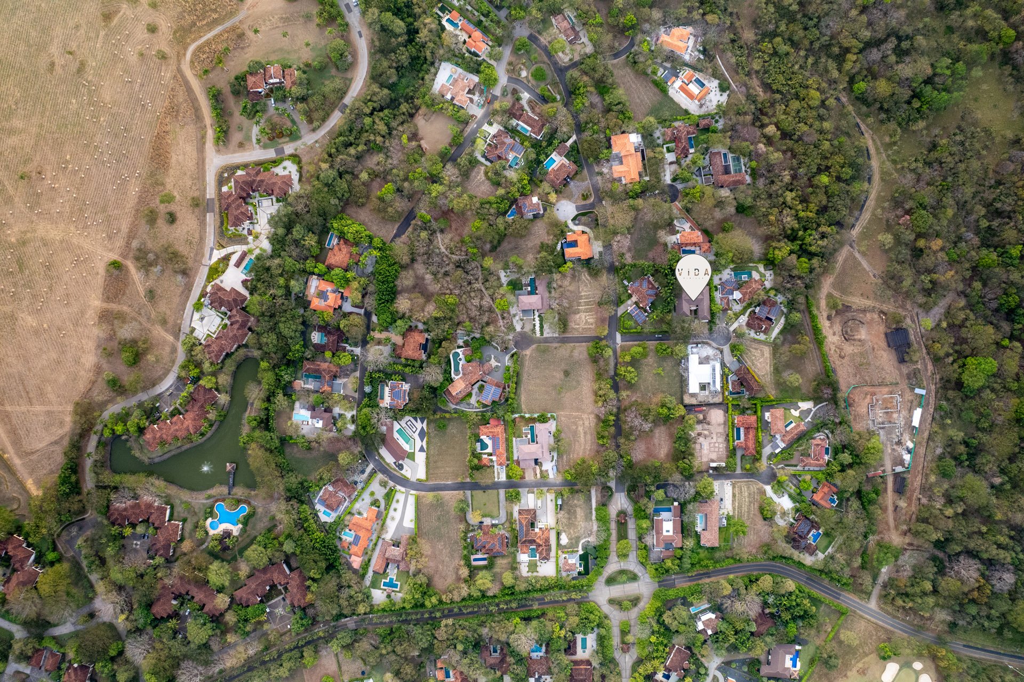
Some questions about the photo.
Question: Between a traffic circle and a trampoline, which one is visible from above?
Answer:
traffic circle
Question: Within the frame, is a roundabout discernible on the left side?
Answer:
No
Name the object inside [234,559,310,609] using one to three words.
house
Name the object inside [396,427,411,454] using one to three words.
swimming pool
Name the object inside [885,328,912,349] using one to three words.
shed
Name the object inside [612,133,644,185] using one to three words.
house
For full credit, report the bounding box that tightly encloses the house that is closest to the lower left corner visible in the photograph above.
[31,649,63,670]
